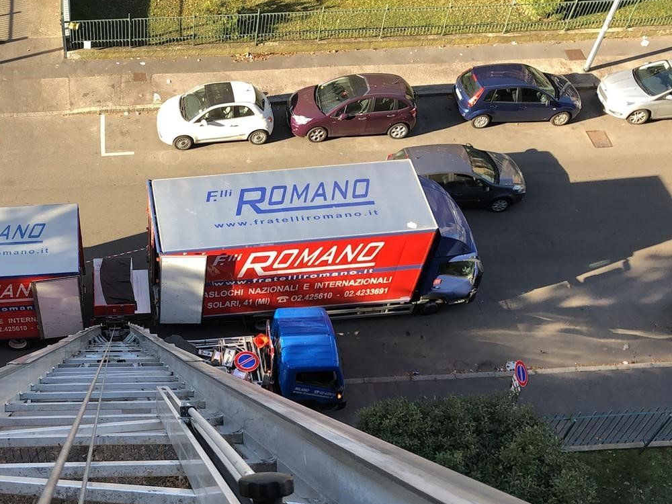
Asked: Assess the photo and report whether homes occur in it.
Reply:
No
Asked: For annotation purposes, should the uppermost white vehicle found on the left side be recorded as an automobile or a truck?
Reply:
automobile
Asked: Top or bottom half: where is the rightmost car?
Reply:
top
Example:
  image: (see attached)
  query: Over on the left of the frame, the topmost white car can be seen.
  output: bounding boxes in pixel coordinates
[155,80,276,150]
